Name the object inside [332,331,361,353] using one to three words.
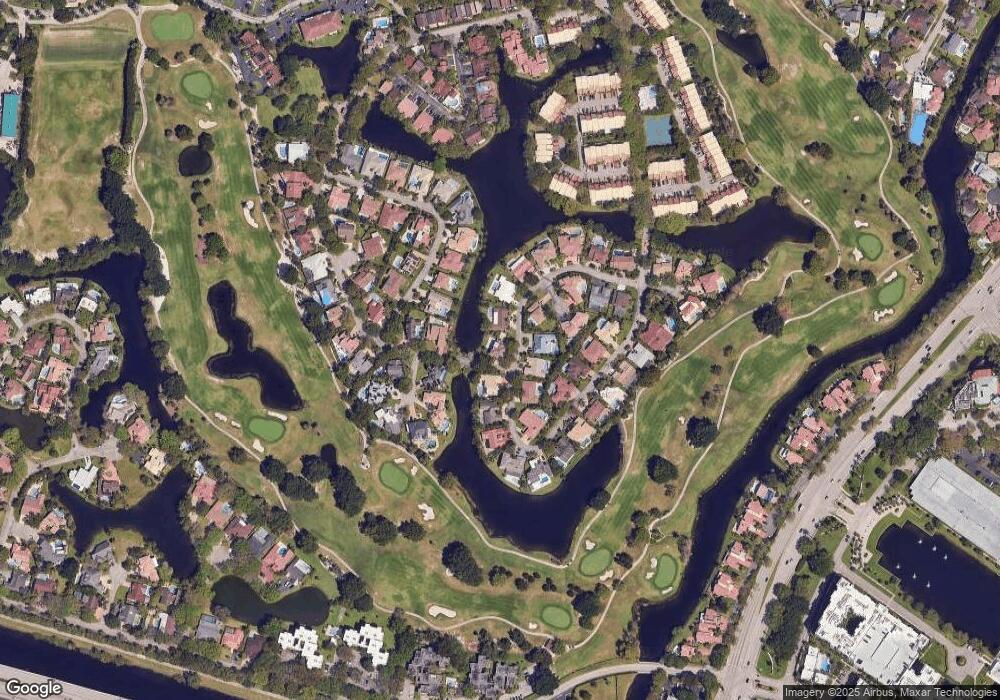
house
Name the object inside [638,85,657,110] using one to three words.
swimming pool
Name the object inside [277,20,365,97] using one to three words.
pond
